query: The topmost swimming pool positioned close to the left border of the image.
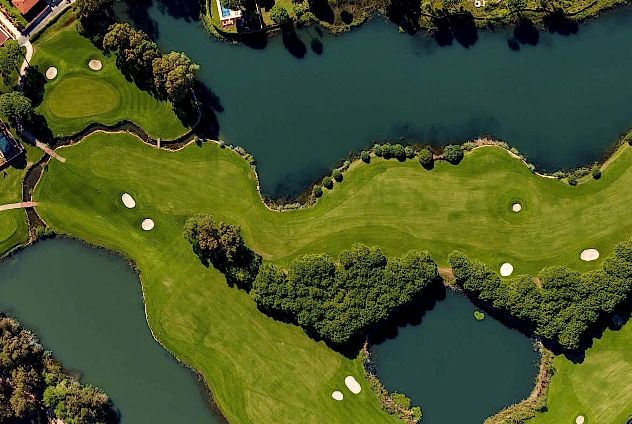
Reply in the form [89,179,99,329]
[0,132,17,161]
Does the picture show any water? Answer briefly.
Yes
